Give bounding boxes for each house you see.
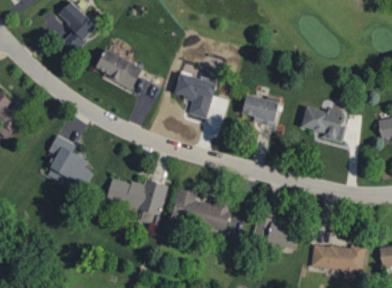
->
[95,51,144,91]
[250,220,298,255]
[175,73,217,122]
[173,186,240,232]
[312,243,366,270]
[0,93,16,139]
[300,104,349,146]
[378,118,392,140]
[379,246,392,264]
[104,177,167,224]
[47,132,96,184]
[244,93,280,131]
